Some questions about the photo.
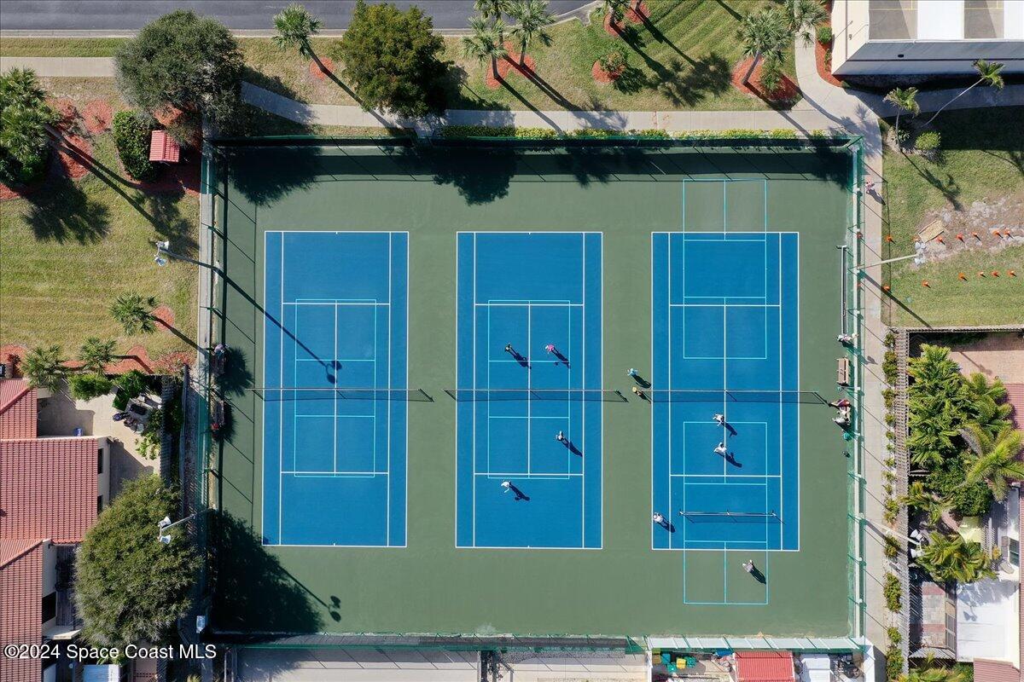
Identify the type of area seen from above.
sports ground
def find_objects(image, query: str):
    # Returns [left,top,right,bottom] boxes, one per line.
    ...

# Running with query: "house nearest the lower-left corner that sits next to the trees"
[0,544,79,682]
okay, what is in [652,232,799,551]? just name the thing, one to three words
tennis court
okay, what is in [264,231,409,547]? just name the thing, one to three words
tennis court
